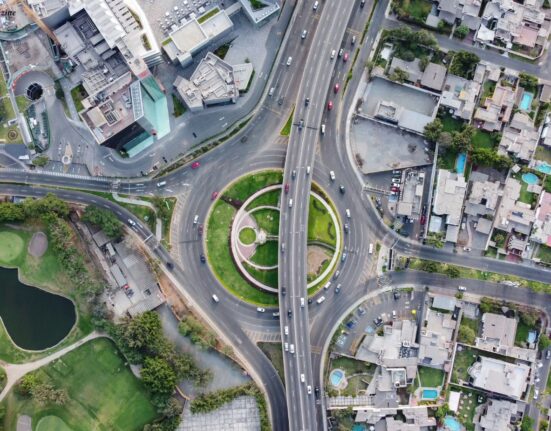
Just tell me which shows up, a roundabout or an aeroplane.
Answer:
roundabout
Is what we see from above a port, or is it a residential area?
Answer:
residential area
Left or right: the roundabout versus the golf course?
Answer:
on its right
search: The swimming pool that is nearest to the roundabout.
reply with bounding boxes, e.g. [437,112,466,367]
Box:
[328,369,345,388]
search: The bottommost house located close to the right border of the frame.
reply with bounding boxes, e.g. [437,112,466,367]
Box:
[469,393,525,431]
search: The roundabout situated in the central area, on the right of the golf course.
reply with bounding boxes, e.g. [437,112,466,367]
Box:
[204,168,343,307]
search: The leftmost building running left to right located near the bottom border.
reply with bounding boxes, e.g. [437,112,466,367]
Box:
[179,393,260,431]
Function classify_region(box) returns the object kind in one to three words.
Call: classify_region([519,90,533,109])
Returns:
swimming pool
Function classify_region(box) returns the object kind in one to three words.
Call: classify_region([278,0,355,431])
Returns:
overpass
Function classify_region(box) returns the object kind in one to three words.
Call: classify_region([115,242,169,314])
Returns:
building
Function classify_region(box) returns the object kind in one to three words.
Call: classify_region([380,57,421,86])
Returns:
house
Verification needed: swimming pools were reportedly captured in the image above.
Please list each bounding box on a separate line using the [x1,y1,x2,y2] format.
[328,369,345,388]
[456,151,467,174]
[519,90,533,109]
[521,172,540,185]
[534,161,551,174]
[527,331,536,343]
[349,421,368,431]
[421,388,439,400]
[443,415,464,431]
